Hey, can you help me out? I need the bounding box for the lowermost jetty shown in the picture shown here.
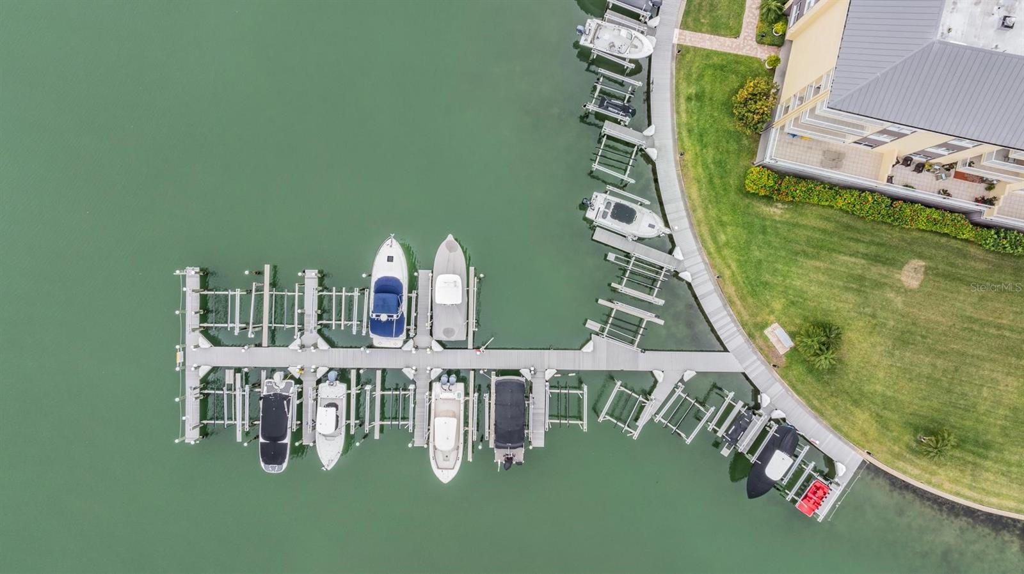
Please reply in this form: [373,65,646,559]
[815,465,858,521]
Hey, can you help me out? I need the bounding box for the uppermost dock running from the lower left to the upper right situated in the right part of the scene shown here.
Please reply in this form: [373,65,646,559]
[635,371,684,426]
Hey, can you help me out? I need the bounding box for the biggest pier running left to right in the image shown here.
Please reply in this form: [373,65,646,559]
[186,347,744,373]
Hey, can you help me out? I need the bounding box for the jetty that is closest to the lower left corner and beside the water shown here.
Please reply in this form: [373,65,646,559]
[185,366,204,443]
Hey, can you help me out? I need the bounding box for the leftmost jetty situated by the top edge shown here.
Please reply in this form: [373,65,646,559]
[606,9,656,36]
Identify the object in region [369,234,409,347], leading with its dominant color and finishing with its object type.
white boat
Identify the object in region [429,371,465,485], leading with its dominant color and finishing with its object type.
white boat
